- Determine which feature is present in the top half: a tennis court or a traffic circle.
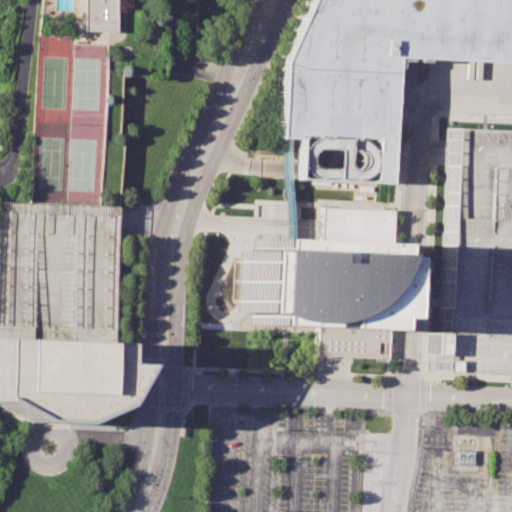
tennis court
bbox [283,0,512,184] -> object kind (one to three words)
building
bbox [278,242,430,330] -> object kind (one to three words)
building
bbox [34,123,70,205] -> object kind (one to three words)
tennis court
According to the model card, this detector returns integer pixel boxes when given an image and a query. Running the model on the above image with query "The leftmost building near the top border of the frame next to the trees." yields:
[88,0,122,32]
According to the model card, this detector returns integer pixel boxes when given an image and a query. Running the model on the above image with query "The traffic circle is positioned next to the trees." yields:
[24,428,74,470]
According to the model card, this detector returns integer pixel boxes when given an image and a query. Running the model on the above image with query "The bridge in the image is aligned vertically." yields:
[284,140,298,240]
